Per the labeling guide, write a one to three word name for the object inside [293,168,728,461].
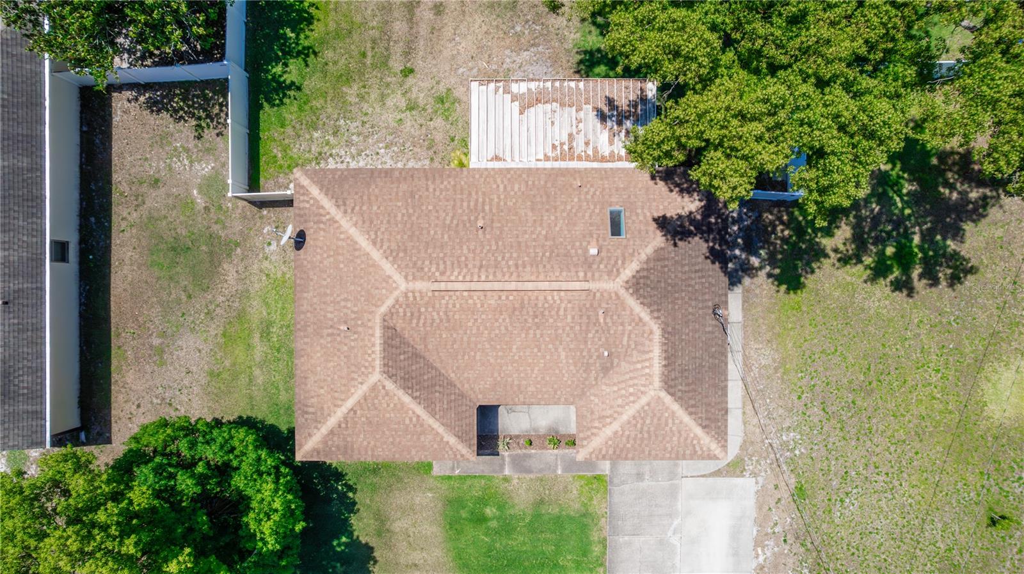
house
